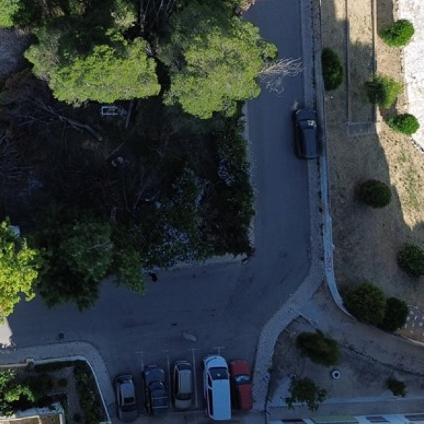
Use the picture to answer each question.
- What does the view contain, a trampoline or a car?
car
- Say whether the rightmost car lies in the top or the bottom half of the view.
top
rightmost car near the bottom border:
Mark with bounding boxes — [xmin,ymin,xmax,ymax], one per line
[226,357,255,413]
